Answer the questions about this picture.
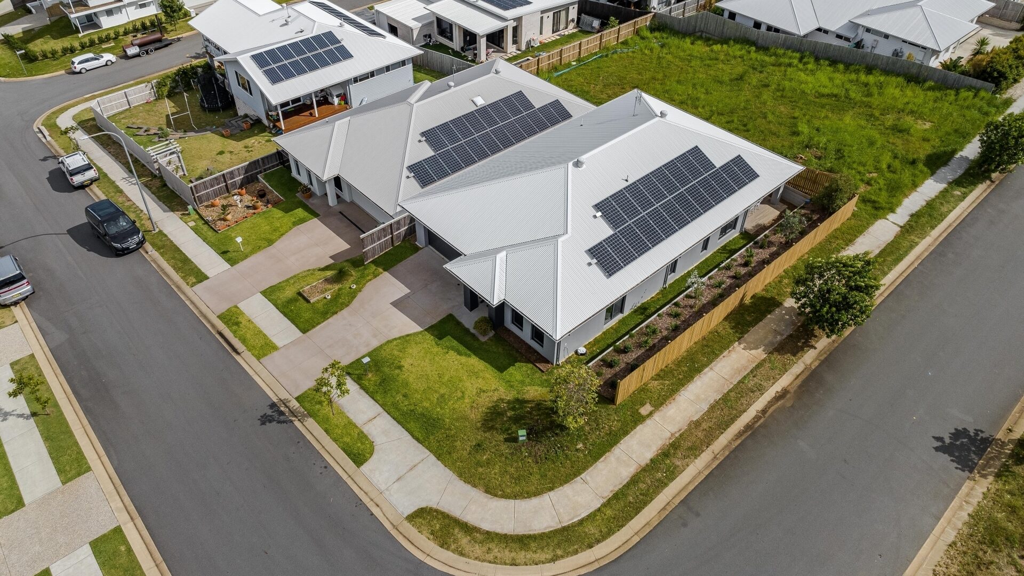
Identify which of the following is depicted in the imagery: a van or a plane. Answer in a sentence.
This aerial view contains a van.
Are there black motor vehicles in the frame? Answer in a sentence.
Yes, the photo shows a black motor vehicle.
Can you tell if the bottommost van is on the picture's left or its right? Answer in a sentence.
It is on the left.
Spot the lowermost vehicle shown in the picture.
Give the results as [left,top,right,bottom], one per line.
[0,249,37,311]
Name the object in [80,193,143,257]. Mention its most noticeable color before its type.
black van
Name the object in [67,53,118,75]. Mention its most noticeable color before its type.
white car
